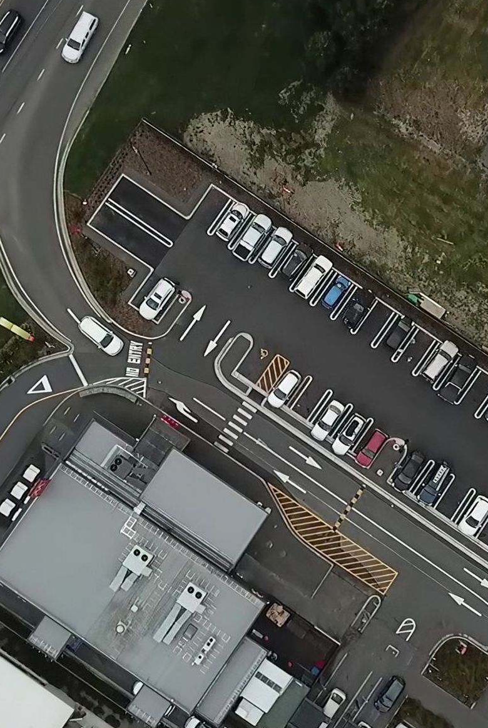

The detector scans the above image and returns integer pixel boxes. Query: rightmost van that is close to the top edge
[63,8,100,64]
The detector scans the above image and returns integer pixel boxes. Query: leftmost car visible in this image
[0,7,25,59]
